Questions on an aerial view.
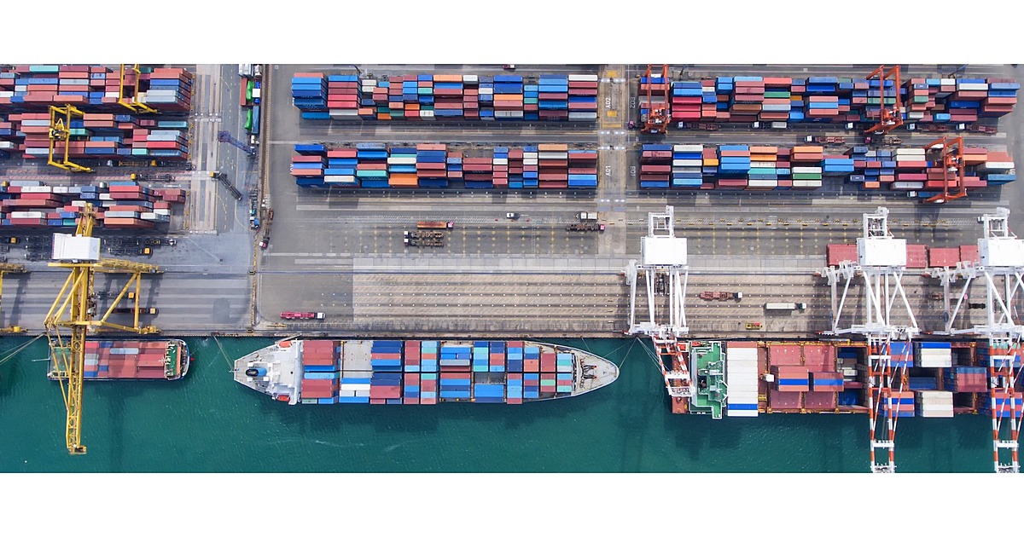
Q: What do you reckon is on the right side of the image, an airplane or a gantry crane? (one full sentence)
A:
You can see a gantry crane on the right side of the image.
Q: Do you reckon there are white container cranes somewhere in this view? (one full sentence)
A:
Yes, I can see a white container crane in this picture.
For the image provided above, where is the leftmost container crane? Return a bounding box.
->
[0,262,45,332]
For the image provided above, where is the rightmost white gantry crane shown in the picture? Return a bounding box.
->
[924,203,1024,470]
